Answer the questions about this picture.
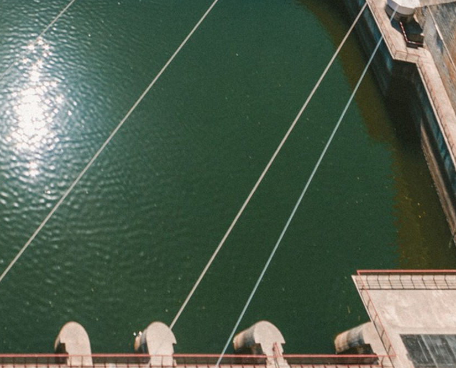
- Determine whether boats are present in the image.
No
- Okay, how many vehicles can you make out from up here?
zero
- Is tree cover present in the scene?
No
